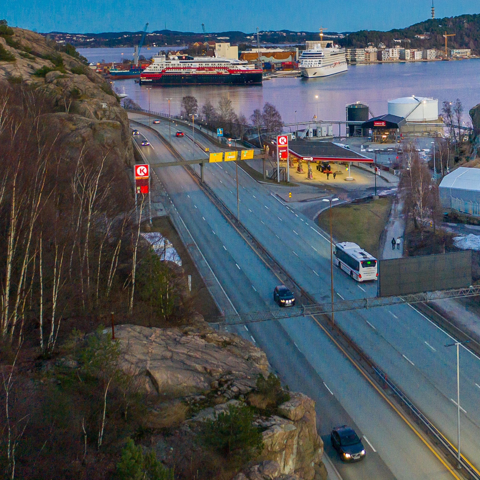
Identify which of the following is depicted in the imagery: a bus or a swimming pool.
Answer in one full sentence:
It is a bus that can be seen here.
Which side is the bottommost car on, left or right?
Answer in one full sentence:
The bottommost car is on the right side of the image.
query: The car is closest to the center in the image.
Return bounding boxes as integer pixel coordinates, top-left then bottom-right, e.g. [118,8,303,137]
[273,283,295,305]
